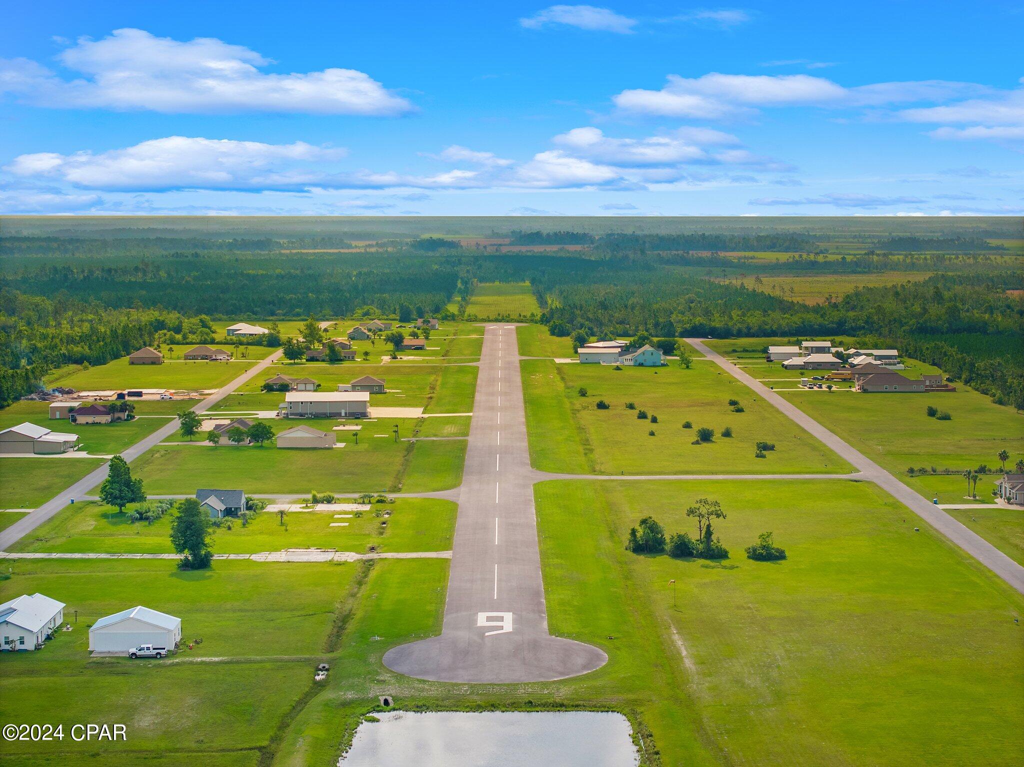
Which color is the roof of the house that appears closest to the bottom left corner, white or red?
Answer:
white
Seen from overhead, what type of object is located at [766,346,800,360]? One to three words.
barn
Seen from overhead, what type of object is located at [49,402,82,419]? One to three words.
shed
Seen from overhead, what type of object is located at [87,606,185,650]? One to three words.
hangar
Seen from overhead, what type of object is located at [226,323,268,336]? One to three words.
house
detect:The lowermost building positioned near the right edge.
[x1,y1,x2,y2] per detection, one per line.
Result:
[987,474,1024,503]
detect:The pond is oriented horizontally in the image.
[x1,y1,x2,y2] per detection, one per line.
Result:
[342,709,643,767]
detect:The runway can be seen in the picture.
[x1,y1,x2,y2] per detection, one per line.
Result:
[386,323,606,678]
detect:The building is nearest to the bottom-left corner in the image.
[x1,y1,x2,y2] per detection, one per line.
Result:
[0,594,66,650]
